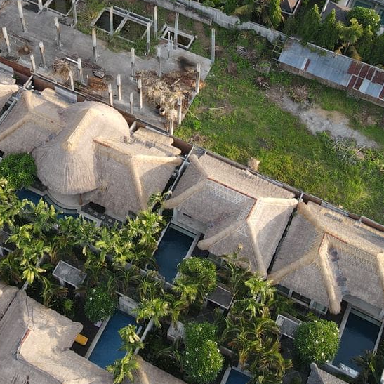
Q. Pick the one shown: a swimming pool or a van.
swimming pool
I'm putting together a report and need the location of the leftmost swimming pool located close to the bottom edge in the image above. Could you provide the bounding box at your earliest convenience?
[88,304,148,375]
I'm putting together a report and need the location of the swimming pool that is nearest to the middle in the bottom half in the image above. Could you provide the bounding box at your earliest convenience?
[142,223,202,283]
